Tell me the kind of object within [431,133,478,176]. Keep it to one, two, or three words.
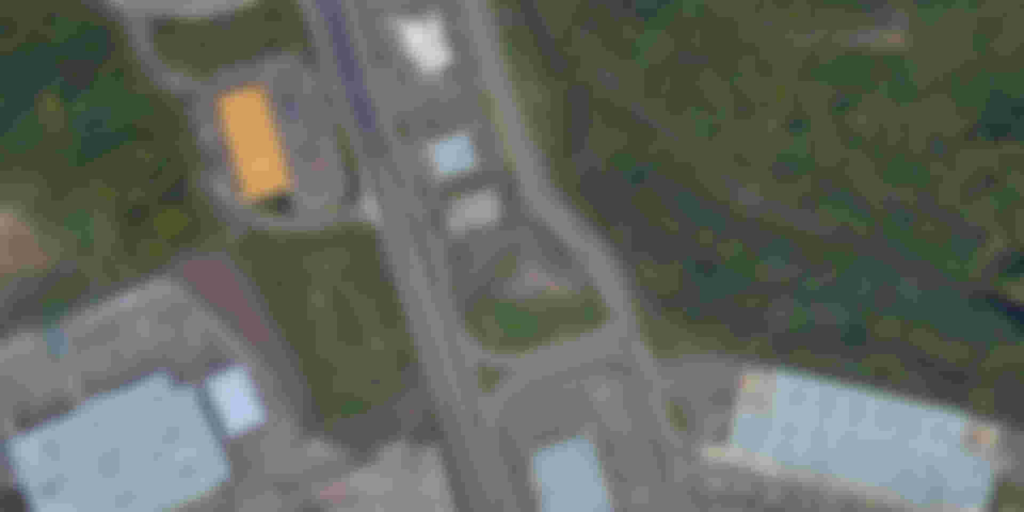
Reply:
house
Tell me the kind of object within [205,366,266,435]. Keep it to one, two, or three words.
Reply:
building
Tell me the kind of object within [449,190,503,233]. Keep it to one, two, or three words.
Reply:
building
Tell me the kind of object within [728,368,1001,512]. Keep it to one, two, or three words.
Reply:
warehouse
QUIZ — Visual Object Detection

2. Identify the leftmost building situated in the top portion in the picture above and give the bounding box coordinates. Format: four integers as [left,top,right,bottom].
[218,84,292,204]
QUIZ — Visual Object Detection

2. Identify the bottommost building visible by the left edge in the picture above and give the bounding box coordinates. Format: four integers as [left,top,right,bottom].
[7,370,233,512]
